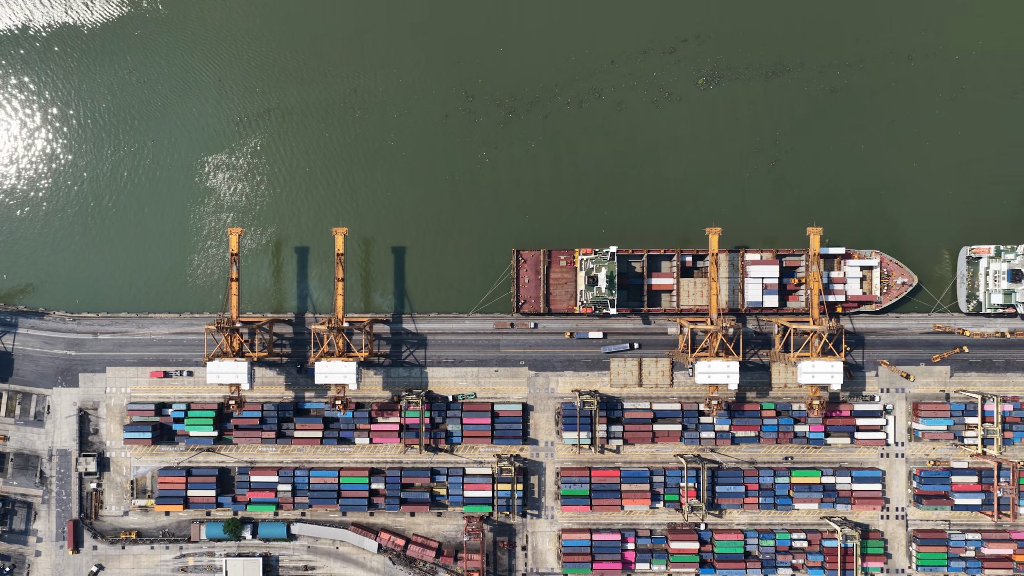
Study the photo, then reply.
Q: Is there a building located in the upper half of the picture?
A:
No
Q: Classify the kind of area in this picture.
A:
port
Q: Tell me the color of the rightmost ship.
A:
white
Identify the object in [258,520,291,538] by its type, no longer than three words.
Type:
shed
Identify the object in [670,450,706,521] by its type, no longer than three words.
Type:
container crane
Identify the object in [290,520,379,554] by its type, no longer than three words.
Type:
shed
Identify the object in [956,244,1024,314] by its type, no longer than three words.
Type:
ship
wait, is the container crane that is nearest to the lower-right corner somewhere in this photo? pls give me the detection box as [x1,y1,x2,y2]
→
[963,450,1016,522]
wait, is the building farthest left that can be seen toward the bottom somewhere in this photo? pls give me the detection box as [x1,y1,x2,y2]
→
[77,450,103,477]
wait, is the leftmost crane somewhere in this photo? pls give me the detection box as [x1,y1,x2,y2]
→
[203,222,293,416]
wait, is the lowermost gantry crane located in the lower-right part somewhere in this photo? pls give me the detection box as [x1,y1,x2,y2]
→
[815,513,860,576]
